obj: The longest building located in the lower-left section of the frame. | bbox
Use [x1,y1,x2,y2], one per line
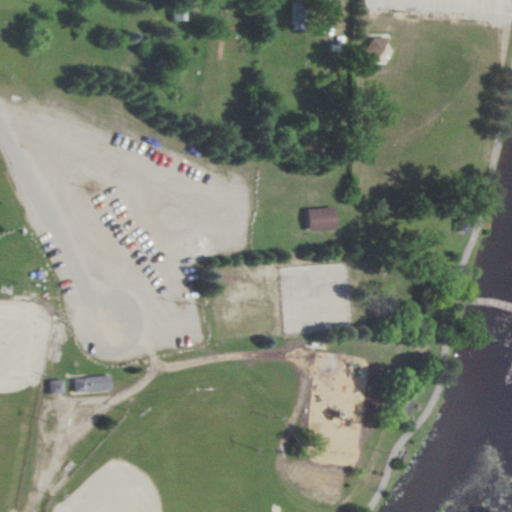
[76,376,112,392]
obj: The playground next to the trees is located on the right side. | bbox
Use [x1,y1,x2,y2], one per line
[288,348,368,467]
